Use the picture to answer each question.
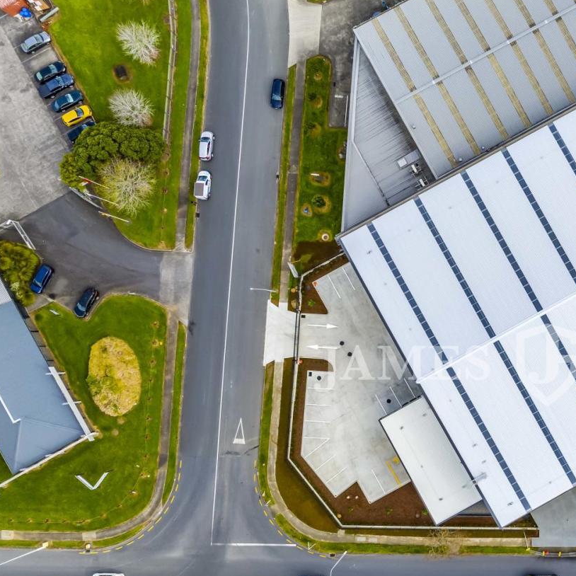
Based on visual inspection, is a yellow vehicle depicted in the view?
Yes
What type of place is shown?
industrial area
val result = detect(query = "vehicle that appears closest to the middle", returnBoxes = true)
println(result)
[195,169,211,201]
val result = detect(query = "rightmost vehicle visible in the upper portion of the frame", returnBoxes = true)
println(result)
[269,77,285,108]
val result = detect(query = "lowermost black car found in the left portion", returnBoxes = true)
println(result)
[75,285,100,318]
